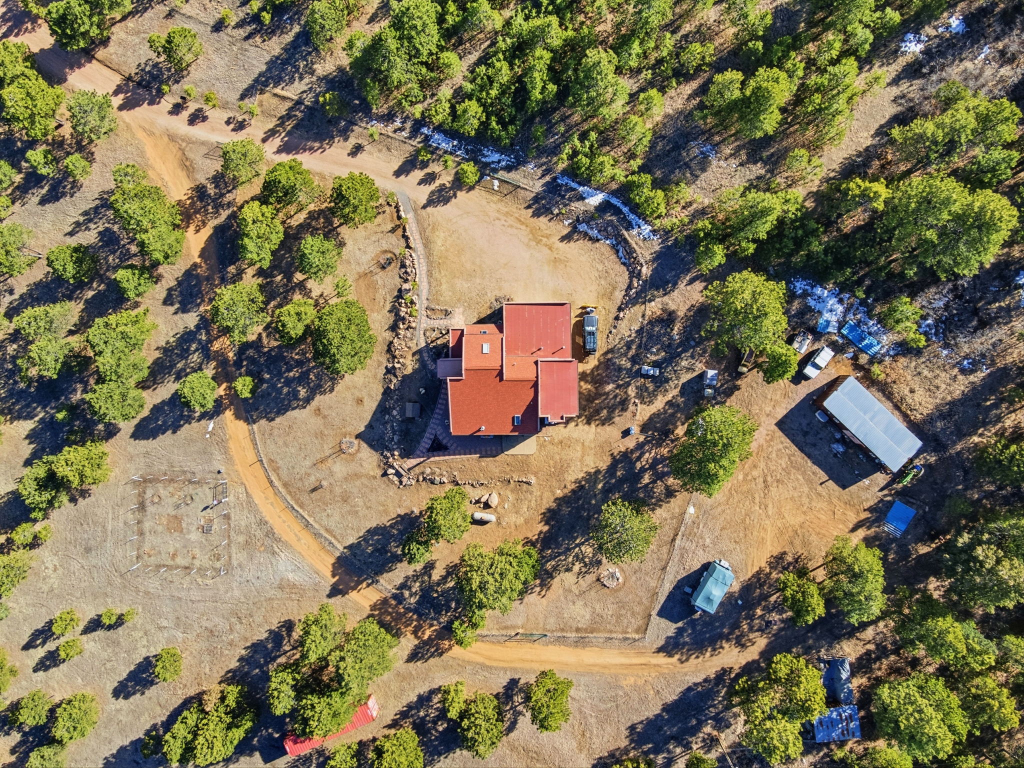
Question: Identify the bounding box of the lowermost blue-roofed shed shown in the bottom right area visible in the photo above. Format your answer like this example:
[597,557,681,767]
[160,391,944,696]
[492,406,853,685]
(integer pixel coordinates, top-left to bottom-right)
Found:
[806,700,861,743]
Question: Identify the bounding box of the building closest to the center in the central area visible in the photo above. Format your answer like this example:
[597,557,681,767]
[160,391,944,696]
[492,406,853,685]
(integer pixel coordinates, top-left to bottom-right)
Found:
[437,302,579,436]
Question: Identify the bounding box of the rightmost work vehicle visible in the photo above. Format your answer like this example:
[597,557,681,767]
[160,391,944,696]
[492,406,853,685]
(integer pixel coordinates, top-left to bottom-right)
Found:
[899,461,931,490]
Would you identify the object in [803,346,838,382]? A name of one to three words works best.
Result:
car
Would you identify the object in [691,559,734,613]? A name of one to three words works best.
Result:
camper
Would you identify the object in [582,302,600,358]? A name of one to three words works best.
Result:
car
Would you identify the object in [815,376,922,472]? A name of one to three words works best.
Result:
barn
